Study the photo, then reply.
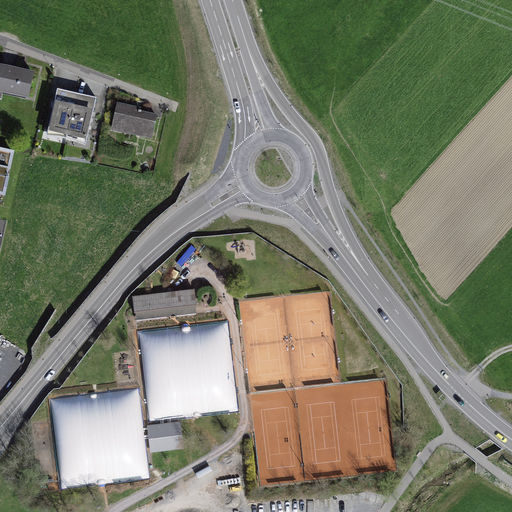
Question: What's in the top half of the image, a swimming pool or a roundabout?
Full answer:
There is a roundabout in the top half of the image.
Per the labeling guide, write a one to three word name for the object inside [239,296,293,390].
tennis court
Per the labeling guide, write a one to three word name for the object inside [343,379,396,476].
tennis court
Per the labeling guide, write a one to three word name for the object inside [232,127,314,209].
roundabout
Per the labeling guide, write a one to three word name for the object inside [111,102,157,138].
house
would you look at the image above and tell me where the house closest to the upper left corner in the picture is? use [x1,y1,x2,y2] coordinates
[0,64,34,98]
